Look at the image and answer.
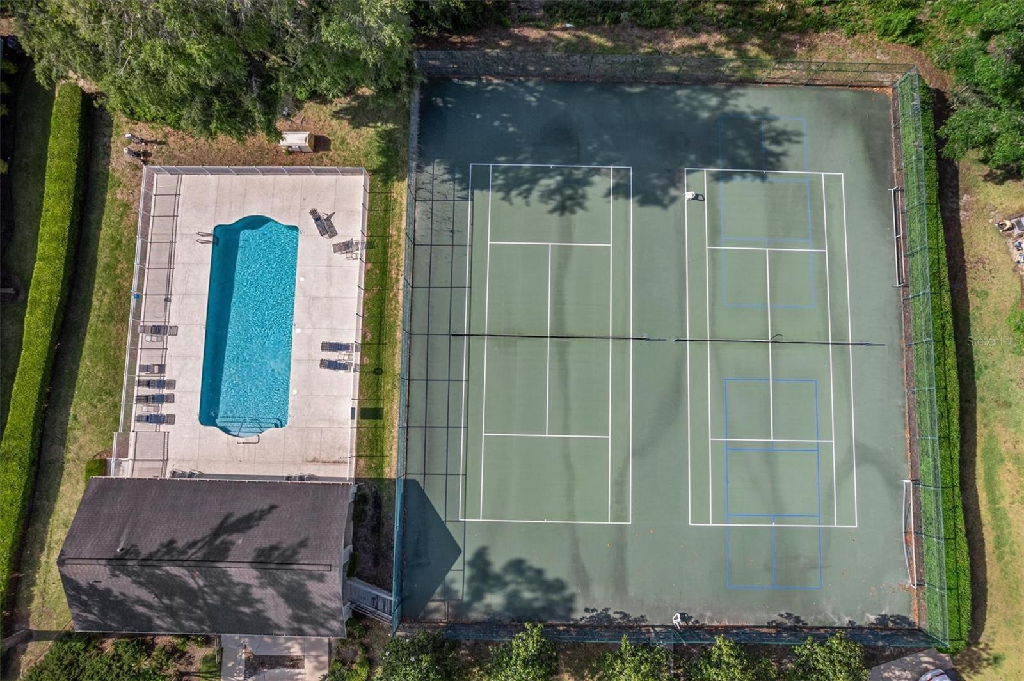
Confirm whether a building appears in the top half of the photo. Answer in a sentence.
No, I can find no building in the top half of the photo.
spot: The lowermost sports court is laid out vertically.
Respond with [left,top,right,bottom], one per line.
[724,379,823,590]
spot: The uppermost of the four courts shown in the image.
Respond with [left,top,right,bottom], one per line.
[718,115,814,309]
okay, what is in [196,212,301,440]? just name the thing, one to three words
swimming pool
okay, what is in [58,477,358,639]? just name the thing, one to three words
building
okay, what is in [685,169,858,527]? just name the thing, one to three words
tennis court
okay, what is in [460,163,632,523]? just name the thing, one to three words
tennis court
